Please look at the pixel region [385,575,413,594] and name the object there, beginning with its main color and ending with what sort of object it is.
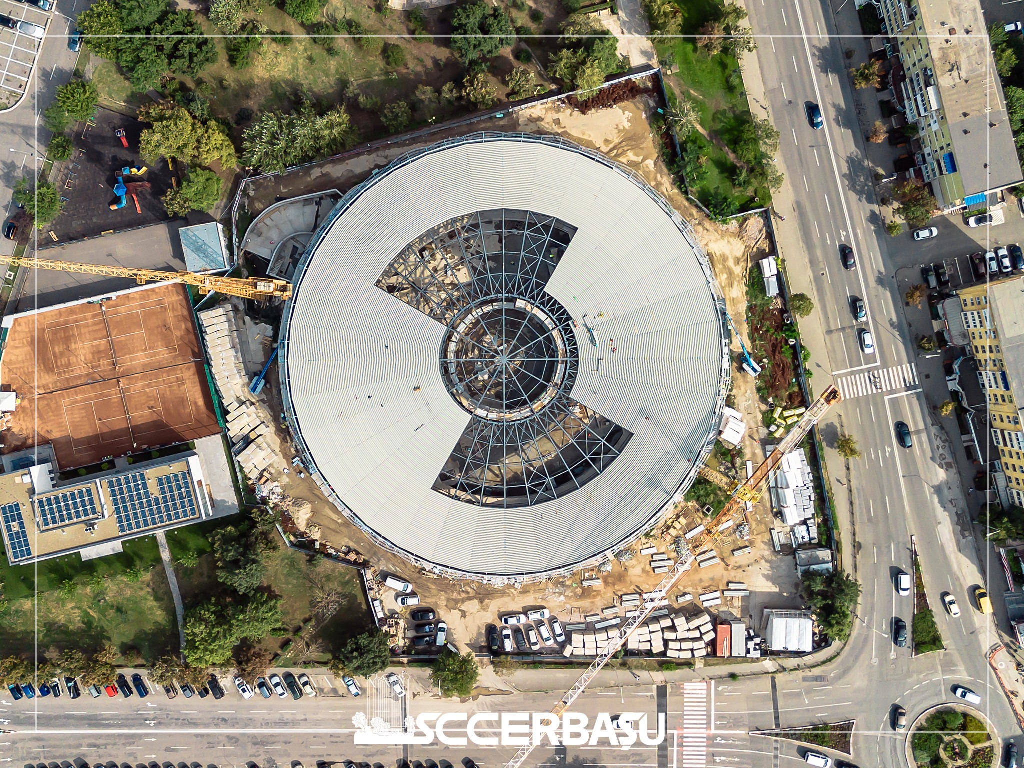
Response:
white vehicle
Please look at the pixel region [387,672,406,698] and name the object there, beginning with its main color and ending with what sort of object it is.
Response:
white car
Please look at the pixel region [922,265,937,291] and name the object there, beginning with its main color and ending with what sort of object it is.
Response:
black car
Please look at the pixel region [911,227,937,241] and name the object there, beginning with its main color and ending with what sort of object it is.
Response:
white car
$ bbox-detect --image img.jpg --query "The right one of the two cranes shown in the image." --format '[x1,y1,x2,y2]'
[500,382,846,768]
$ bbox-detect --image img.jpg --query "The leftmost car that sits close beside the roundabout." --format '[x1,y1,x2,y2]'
[894,707,908,732]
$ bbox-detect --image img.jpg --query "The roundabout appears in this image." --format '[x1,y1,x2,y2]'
[906,703,1002,768]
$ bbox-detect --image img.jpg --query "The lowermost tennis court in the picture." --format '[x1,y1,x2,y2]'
[0,361,221,464]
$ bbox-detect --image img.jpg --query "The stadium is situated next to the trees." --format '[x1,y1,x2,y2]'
[277,131,732,586]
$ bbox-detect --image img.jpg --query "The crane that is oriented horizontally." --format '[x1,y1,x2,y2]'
[0,256,306,327]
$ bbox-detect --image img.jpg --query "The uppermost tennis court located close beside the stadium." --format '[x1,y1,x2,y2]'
[0,286,199,400]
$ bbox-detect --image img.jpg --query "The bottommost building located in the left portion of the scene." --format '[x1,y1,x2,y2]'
[0,453,228,568]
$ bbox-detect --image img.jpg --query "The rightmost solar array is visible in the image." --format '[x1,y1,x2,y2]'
[107,471,196,534]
